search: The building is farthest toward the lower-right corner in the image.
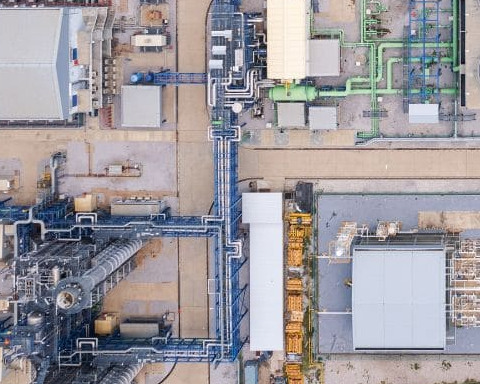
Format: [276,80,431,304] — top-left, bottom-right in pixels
[352,224,448,351]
